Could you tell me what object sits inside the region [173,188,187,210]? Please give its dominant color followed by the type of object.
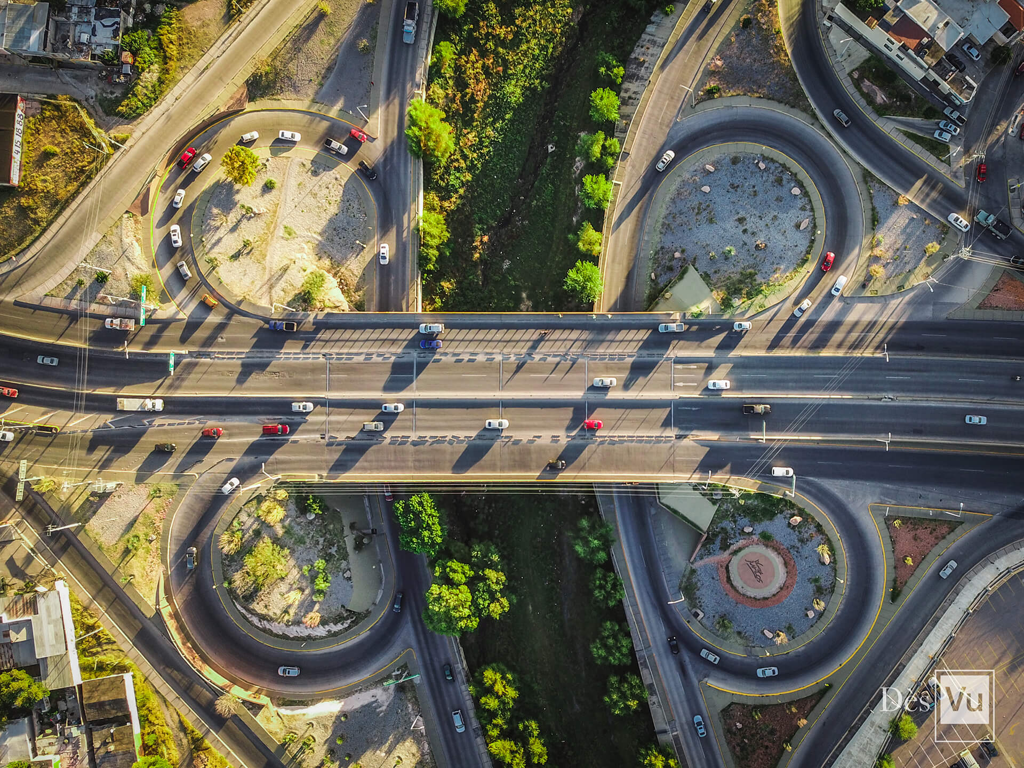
white car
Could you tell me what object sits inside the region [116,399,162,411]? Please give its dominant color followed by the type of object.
white vehicle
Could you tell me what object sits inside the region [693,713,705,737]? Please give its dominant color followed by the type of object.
blue vehicle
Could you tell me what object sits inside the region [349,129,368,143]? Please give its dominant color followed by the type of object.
red car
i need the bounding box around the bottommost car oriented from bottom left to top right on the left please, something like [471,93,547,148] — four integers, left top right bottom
[220,475,240,495]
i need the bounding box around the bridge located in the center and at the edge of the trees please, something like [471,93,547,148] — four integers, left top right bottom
[280,312,760,493]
